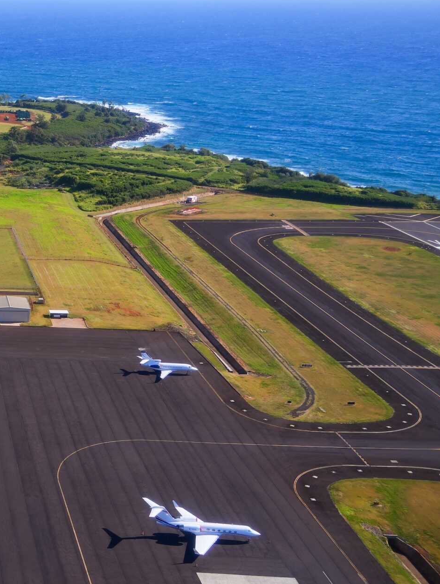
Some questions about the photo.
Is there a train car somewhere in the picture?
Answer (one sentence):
No, there isn't any train car down there.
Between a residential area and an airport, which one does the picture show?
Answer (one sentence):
The area seen from above is an airport.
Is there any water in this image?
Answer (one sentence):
Yes, there's water in this view.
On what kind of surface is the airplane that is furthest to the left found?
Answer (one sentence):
It looks like the airplane that is furthest to the left is sitting on the apron.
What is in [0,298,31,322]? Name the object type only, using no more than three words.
hangar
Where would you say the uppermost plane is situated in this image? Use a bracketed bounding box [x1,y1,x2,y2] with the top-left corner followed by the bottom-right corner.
[142,352,198,377]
